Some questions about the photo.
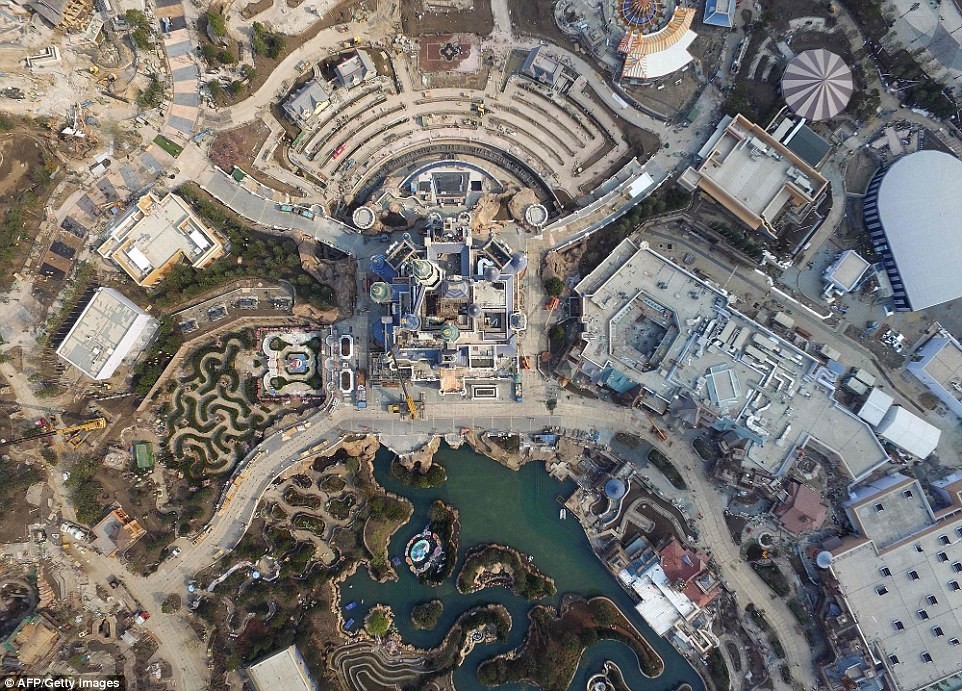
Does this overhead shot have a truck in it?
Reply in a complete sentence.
Yes, the photo shows a truck.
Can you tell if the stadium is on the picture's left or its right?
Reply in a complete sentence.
It is on the right.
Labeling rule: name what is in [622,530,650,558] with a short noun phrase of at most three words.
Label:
shed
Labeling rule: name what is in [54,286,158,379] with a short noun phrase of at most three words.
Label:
building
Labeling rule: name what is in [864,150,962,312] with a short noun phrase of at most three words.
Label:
stadium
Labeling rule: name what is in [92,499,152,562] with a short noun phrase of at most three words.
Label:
house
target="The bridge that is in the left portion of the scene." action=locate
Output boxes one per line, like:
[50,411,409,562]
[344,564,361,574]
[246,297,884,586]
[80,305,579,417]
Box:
[199,165,358,256]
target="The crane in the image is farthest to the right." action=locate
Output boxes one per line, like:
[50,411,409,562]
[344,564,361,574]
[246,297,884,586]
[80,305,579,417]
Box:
[386,347,421,423]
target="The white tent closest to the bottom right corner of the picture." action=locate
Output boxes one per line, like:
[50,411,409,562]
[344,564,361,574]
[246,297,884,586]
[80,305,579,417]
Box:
[877,406,941,459]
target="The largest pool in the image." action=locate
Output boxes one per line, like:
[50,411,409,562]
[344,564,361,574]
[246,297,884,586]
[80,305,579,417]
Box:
[412,543,428,561]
